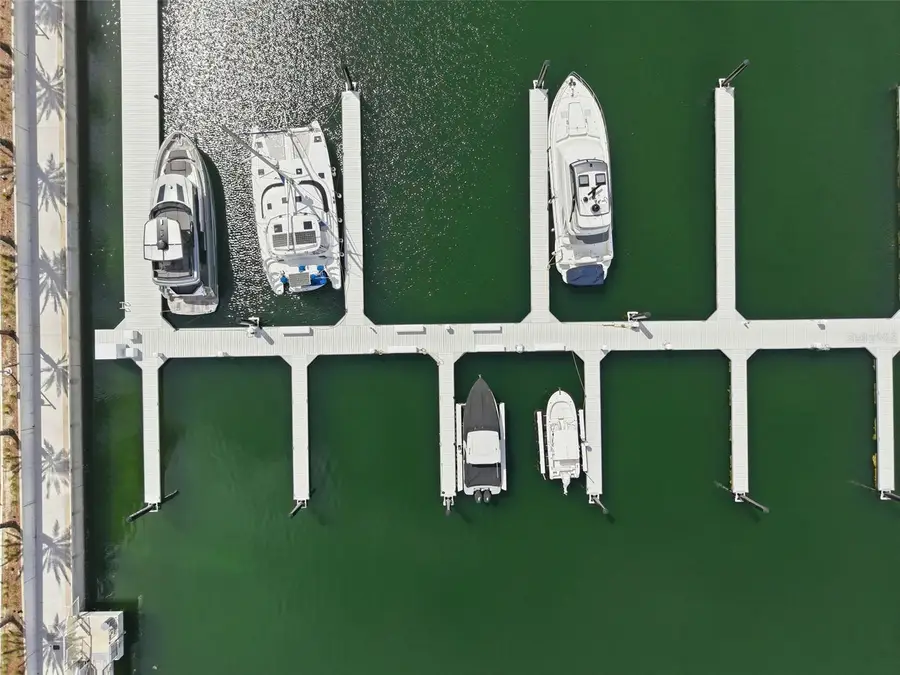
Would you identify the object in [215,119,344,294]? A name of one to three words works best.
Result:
boat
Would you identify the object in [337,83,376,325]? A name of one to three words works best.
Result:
pier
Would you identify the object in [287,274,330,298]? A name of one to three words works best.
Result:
boat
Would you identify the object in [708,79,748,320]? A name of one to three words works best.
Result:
pier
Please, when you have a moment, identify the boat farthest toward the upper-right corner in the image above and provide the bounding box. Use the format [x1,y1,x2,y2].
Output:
[548,68,613,287]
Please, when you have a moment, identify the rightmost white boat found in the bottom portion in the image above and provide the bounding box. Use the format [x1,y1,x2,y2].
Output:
[546,388,579,495]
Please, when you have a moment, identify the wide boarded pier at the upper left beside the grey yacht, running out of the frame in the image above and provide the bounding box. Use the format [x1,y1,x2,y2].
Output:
[112,0,178,328]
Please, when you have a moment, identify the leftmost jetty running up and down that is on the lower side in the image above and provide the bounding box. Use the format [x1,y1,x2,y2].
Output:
[131,356,170,511]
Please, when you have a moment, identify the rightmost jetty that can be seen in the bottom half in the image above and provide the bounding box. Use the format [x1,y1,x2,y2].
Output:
[864,345,900,499]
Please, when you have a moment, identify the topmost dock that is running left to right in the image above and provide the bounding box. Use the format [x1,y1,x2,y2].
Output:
[94,317,900,357]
